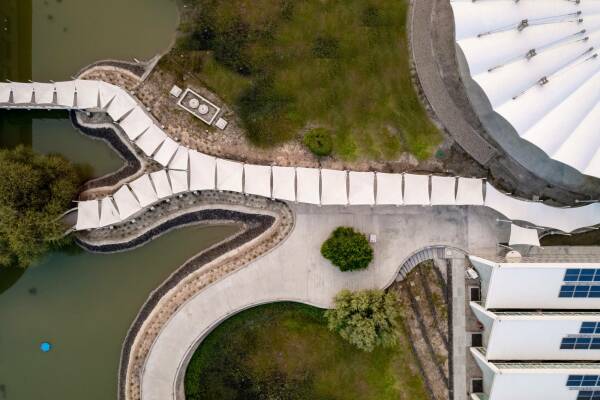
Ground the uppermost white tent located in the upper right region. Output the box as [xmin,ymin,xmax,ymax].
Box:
[451,0,600,176]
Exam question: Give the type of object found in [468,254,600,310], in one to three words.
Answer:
building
